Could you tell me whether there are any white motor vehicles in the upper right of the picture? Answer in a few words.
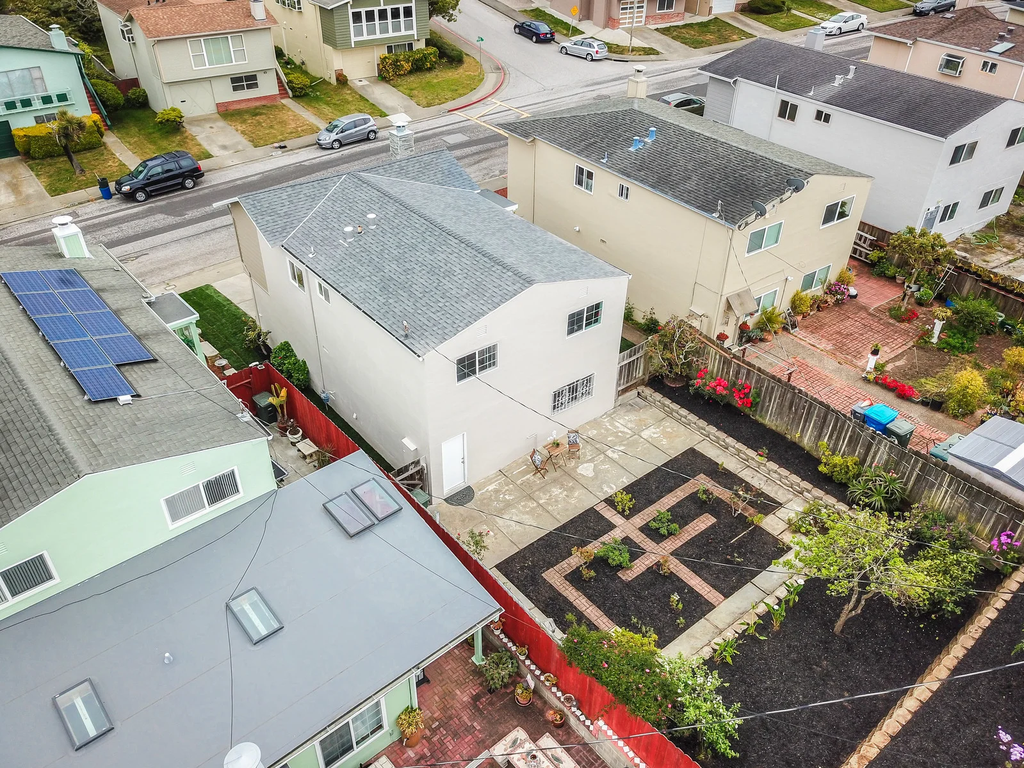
Yes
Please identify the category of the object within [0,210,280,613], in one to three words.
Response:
house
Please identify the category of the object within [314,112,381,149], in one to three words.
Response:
car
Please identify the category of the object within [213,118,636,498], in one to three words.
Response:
house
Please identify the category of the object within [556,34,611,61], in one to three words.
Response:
car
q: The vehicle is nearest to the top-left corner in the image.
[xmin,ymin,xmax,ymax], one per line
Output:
[109,147,208,201]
